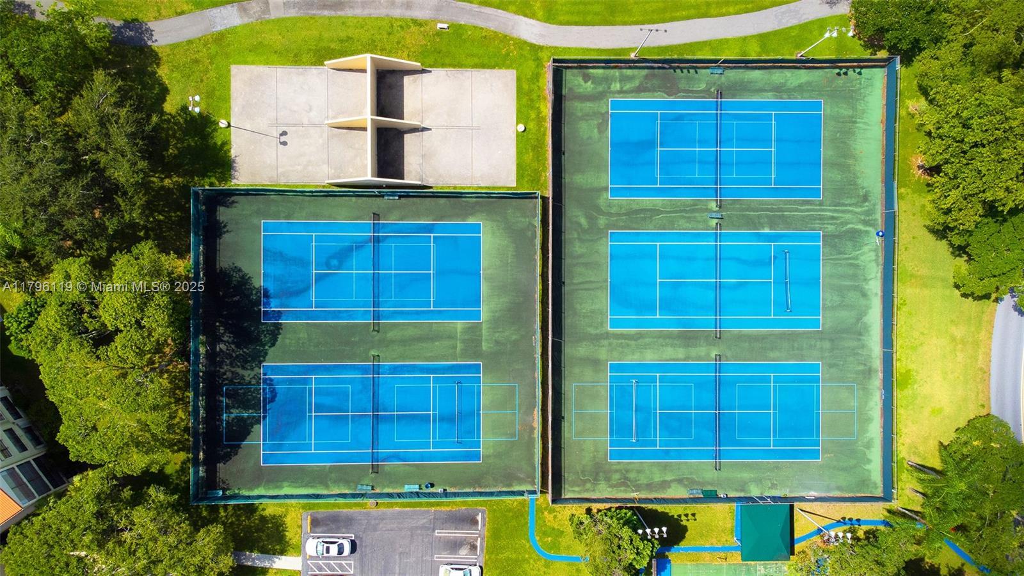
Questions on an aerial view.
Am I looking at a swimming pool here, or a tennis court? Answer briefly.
tennis court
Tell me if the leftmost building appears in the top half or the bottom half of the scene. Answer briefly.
bottom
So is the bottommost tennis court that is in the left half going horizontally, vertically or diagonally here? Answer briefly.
horizontally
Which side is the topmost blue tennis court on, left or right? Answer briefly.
right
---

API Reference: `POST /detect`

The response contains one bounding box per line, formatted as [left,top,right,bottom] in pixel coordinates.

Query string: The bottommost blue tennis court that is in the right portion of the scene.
[573,362,856,462]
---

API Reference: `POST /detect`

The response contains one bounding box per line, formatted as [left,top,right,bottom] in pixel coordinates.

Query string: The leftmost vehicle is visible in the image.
[307,534,352,557]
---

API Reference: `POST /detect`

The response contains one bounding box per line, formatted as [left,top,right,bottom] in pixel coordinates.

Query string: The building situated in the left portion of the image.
[0,381,72,525]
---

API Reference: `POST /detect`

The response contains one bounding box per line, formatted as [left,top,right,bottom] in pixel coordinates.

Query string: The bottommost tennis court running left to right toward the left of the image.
[225,363,518,465]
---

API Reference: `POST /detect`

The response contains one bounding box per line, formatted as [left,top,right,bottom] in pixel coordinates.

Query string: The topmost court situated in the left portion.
[231,65,516,186]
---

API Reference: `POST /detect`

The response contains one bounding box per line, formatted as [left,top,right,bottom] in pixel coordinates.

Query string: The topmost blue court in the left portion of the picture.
[262,221,482,322]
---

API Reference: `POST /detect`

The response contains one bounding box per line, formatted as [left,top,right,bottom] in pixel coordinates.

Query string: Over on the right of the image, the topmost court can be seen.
[610,98,822,199]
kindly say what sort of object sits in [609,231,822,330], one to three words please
tennis court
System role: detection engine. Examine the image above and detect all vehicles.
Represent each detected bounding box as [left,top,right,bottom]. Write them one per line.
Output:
[440,562,482,576]
[307,534,352,557]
